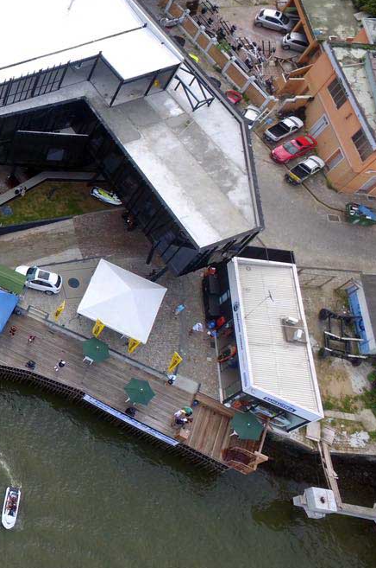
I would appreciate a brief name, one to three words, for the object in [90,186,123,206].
boat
